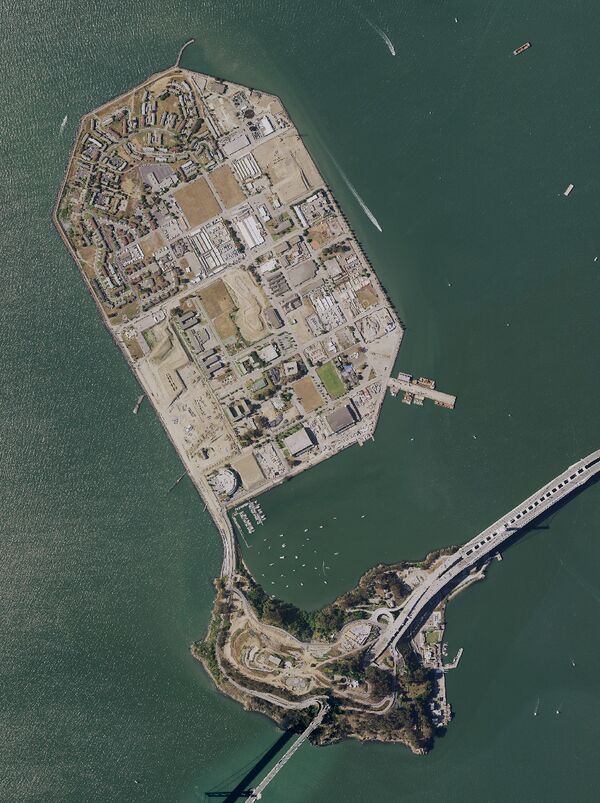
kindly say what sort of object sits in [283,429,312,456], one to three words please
hangar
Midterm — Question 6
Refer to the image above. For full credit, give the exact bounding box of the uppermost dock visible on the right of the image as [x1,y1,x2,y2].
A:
[389,378,456,403]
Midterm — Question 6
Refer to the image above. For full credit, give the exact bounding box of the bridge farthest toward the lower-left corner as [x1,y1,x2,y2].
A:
[244,700,330,803]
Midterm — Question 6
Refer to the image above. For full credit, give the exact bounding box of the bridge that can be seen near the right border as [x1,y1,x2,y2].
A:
[370,449,600,661]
